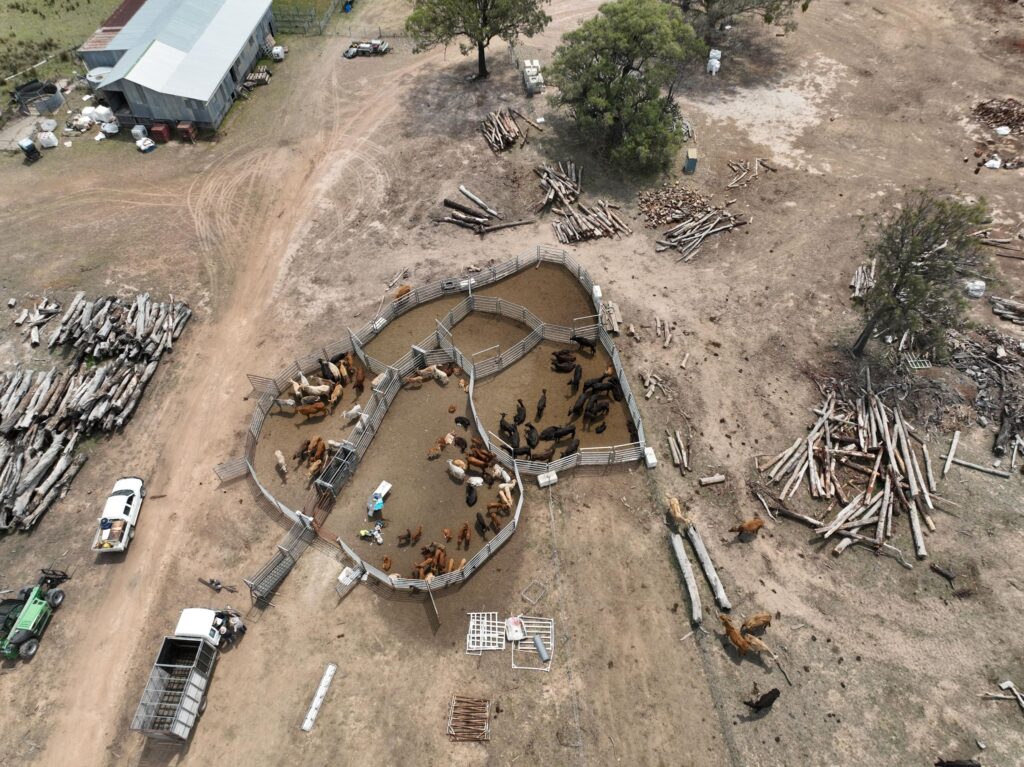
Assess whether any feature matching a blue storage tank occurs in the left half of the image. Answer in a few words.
No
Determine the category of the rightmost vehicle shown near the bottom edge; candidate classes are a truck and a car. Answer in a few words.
truck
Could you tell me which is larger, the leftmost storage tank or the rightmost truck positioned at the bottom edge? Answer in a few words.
the truck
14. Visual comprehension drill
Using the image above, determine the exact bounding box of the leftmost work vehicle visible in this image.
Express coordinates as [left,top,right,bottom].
[0,560,77,662]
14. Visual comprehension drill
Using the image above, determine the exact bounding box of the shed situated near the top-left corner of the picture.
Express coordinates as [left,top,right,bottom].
[77,0,291,128]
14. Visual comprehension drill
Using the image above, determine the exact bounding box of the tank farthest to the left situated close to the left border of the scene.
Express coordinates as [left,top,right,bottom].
[5,82,64,119]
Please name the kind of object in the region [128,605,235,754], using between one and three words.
truck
